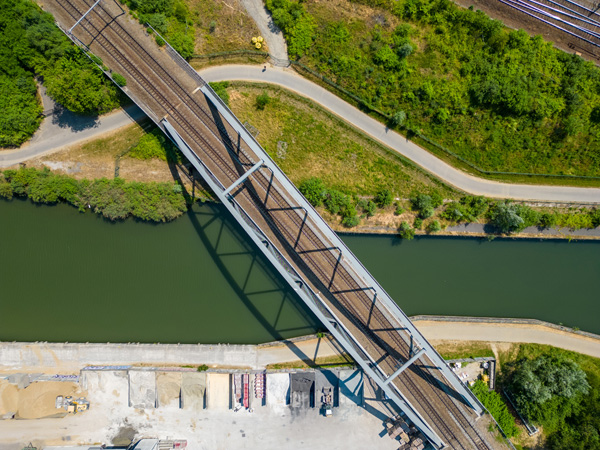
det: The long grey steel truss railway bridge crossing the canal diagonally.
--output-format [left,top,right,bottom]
[125,45,488,450]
